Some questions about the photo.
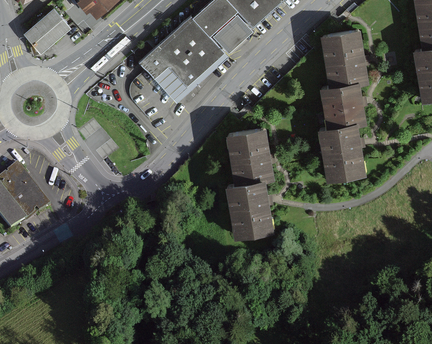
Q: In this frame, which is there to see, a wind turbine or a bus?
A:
bus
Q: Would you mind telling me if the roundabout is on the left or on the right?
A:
left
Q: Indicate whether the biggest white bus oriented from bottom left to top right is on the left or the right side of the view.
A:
left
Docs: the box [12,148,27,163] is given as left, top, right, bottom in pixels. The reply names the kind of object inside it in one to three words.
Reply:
vehicle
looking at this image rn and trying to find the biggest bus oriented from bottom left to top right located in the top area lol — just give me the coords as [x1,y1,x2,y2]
[92,36,130,72]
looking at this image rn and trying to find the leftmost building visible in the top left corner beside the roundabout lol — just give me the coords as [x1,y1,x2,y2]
[24,8,71,56]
